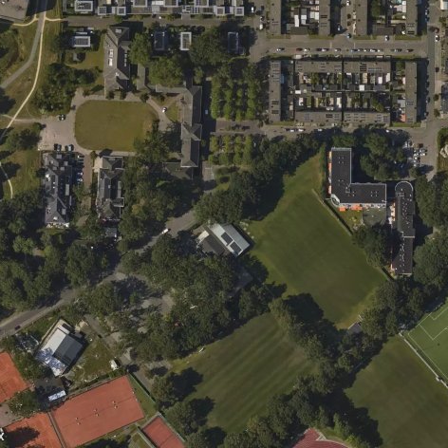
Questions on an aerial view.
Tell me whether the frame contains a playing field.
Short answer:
Yes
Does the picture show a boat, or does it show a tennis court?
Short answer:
tennis court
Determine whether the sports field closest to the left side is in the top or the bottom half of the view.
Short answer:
bottom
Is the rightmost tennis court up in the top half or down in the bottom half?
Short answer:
bottom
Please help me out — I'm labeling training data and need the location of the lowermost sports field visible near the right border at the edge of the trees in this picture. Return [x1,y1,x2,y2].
[347,339,448,448]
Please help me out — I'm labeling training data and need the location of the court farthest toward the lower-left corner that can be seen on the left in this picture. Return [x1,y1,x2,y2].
[5,412,60,448]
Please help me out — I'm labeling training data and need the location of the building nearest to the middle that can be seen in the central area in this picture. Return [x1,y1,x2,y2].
[192,219,249,256]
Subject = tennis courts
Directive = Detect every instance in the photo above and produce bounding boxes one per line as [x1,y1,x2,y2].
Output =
[5,412,60,448]
[0,352,28,402]
[142,414,181,448]
[51,377,143,448]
